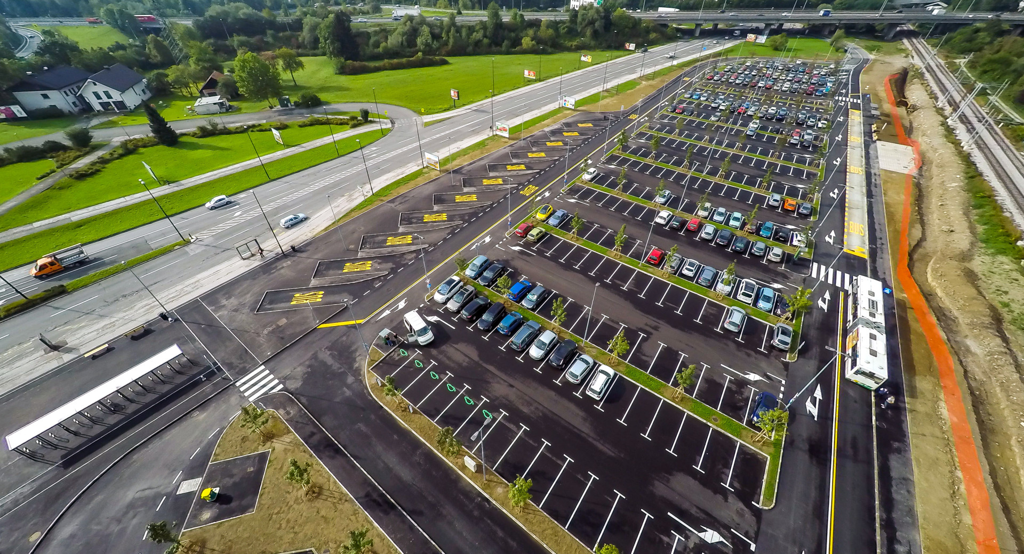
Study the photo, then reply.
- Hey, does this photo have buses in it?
Yes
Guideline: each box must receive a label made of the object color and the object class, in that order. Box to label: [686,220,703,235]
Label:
red car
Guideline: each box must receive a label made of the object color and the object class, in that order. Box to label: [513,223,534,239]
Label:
red car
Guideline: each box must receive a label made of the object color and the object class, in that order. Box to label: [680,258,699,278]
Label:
white car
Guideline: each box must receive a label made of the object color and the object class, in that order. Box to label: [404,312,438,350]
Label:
white van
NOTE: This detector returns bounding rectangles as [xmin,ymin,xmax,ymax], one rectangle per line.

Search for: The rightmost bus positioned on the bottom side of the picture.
[841,275,888,394]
